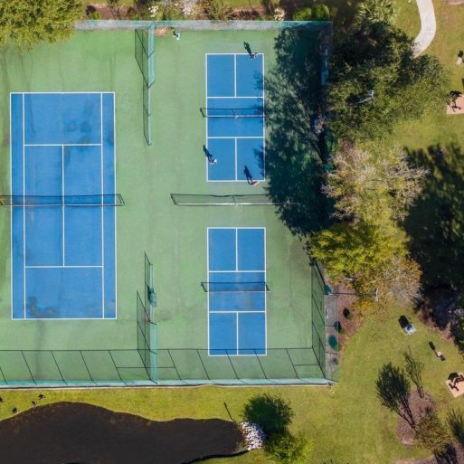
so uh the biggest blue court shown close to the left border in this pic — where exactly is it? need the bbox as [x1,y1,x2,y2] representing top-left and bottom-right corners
[10,92,117,319]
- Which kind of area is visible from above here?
sports ground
